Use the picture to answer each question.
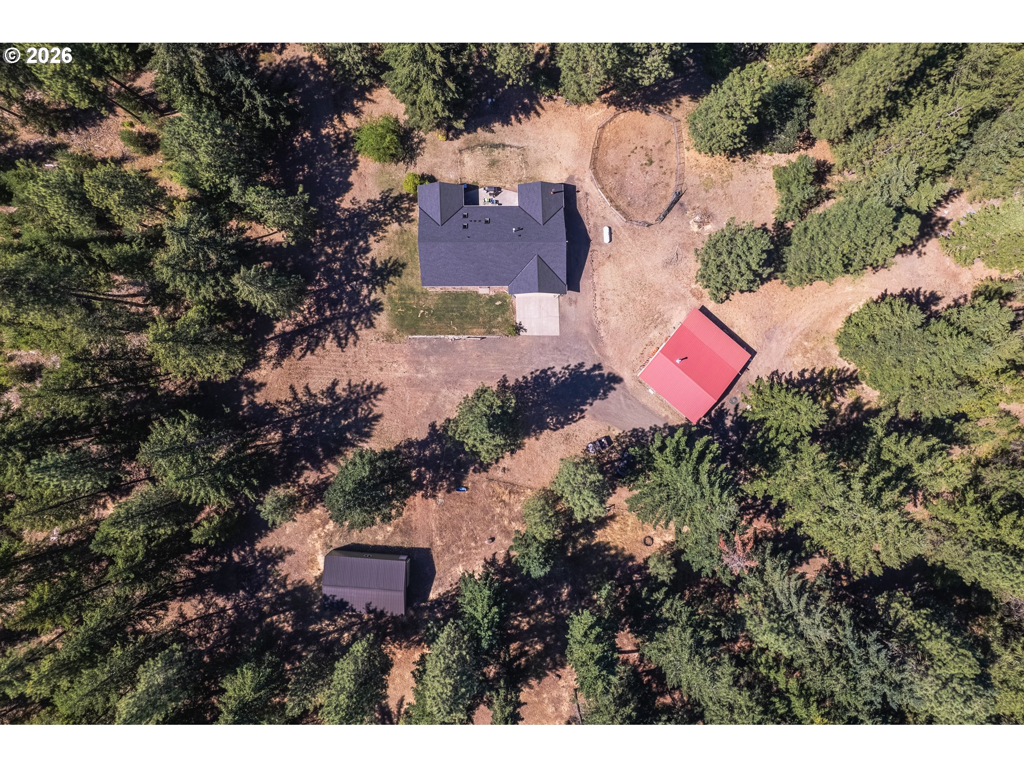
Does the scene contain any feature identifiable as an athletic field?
No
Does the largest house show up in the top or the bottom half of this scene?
top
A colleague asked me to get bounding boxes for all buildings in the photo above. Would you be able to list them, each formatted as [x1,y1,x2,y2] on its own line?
[637,308,752,424]
[320,551,409,615]
[417,181,568,294]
